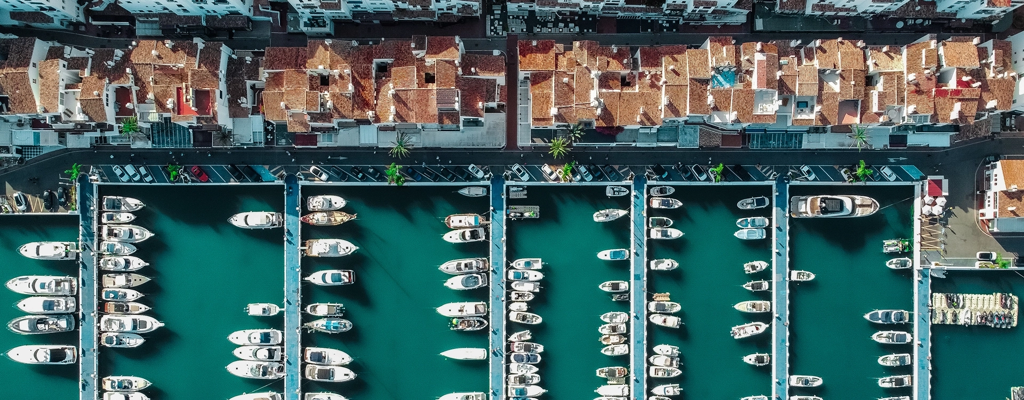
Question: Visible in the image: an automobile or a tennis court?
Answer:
automobile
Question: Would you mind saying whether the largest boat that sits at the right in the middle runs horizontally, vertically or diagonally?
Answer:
horizontally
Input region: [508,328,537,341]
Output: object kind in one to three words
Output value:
boat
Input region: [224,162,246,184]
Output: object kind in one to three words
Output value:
car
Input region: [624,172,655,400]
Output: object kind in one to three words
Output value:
pier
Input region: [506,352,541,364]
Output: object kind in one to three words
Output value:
boat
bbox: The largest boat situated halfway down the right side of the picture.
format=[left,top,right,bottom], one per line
[789,188,918,219]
